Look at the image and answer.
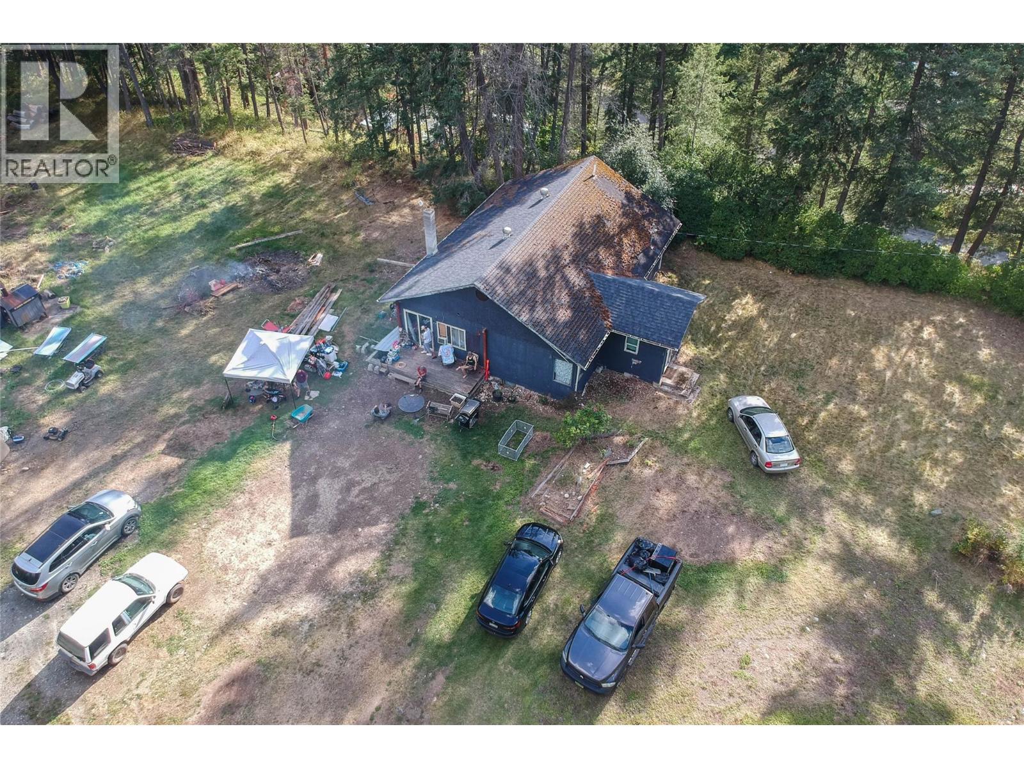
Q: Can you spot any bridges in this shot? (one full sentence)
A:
No, I can't see a single bridge in this photo.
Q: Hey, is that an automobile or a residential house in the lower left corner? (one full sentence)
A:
The feature located in the lower left corner is an automobile.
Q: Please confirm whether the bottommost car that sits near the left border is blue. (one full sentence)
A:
No, the color of the bottommost car that sits near the left border is white.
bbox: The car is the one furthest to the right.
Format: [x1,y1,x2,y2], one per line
[727,397,804,478]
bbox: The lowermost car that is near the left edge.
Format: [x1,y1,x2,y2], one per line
[46,558,189,691]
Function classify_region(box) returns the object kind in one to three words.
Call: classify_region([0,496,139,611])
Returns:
car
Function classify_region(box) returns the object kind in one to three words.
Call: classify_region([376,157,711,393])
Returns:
house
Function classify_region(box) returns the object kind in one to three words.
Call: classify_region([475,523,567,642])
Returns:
car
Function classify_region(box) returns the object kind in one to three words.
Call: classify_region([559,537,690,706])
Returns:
truck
